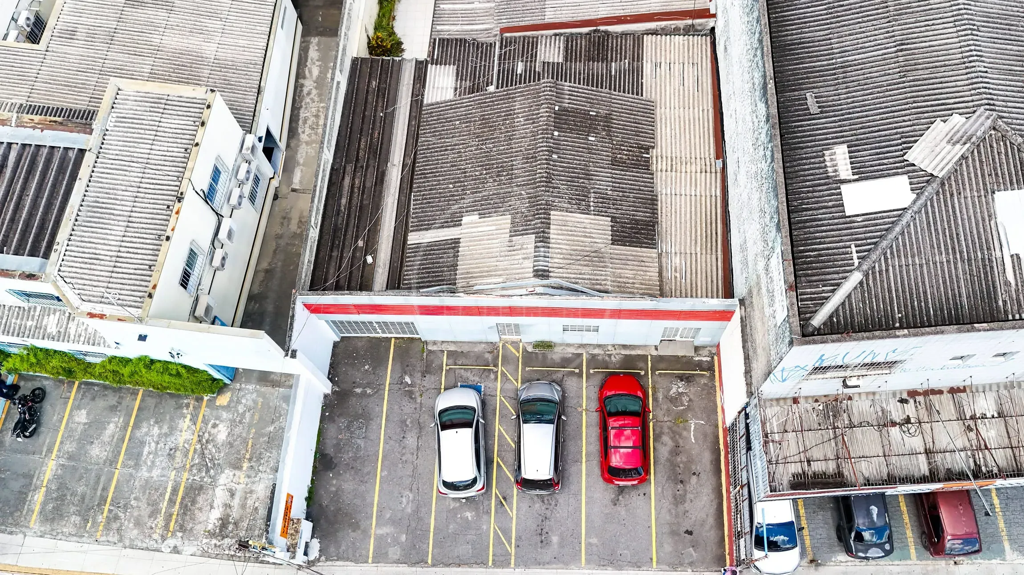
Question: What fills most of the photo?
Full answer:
The scene is dominated by buildings.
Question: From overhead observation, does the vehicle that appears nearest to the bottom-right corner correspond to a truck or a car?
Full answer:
The vehicle that appears nearest to the bottom-right corner can be classified as a car.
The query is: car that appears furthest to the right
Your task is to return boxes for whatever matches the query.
[910,488,982,560]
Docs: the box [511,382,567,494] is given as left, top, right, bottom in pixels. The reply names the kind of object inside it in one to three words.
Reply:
car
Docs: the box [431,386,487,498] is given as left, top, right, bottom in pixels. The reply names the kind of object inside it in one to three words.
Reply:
car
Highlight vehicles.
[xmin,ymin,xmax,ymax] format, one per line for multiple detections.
[597,375,651,487]
[828,494,888,561]
[910,488,982,560]
[431,386,487,498]
[744,458,808,575]
[511,382,567,494]
[6,384,44,439]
